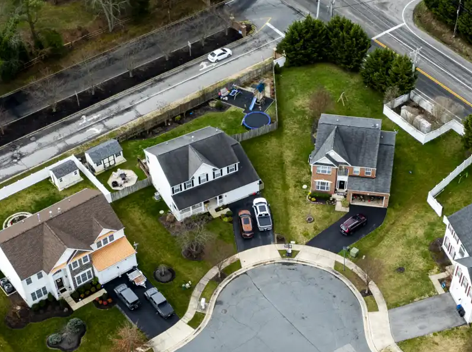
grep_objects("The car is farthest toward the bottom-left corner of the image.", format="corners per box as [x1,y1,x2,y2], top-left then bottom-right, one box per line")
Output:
[113,283,140,310]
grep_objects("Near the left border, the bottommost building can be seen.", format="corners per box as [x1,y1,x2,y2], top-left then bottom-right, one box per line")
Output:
[0,189,138,302]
